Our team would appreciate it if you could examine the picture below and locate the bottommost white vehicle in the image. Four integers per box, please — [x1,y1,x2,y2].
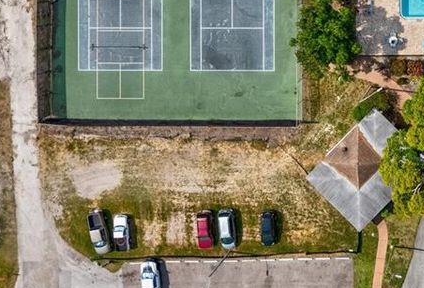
[140,260,159,288]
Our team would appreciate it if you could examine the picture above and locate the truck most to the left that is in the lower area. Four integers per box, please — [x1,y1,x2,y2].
[84,210,112,254]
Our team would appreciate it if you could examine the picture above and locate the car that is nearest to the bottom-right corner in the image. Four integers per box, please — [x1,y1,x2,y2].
[260,211,278,246]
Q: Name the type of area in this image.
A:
sports ground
